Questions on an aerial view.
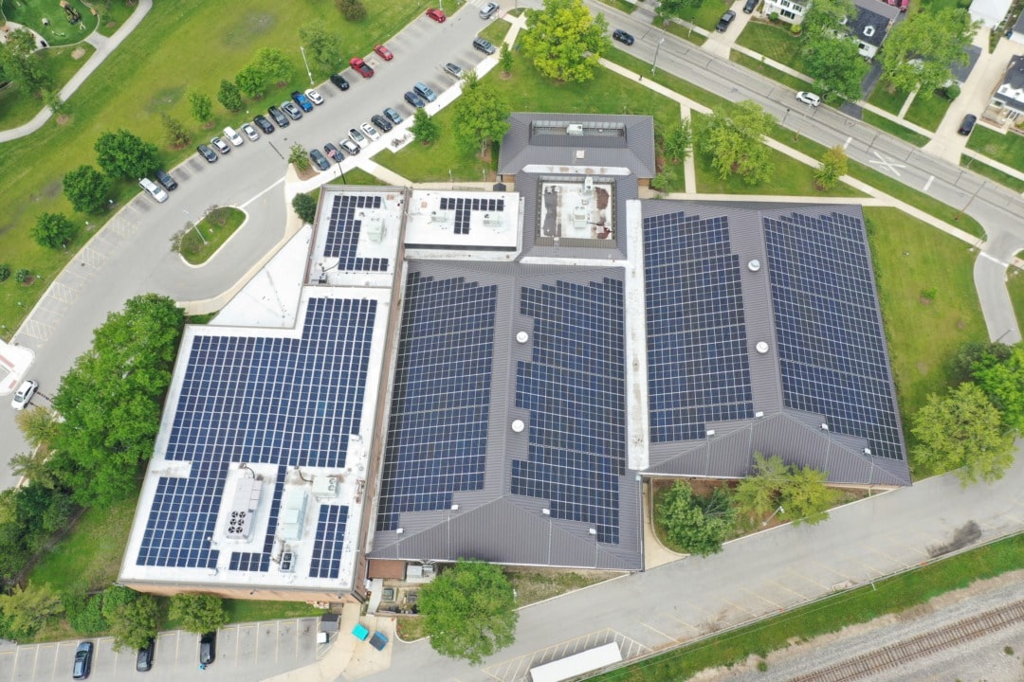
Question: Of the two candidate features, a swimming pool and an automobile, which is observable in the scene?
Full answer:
Of the two, only an automobile appears.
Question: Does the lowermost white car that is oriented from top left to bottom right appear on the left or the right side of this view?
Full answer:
The lowermost white car that is oriented from top left to bottom right appears in the left half of the scene.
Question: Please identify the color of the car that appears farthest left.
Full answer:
In this view, the car that appears farthest left is white.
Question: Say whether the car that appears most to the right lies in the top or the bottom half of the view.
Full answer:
The top half of the photo is where the car that appears most to the right is.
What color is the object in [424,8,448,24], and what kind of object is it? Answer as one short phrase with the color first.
red car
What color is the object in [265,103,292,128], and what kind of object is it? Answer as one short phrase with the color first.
gray truck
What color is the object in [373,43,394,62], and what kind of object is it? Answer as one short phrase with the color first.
red car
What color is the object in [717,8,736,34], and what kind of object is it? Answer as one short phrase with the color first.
gray vehicle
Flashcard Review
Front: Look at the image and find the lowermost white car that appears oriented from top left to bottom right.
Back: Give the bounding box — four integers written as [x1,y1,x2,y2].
[140,176,166,202]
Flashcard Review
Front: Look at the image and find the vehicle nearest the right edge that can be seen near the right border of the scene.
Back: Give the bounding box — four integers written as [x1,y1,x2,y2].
[957,113,977,137]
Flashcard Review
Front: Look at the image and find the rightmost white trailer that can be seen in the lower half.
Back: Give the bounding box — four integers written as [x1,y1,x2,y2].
[530,643,622,682]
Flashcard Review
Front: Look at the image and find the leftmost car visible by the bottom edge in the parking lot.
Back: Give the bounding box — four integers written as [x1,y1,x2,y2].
[69,641,95,681]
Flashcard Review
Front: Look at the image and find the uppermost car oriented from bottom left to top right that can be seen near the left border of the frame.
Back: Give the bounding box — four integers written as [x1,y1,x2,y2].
[10,378,40,411]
